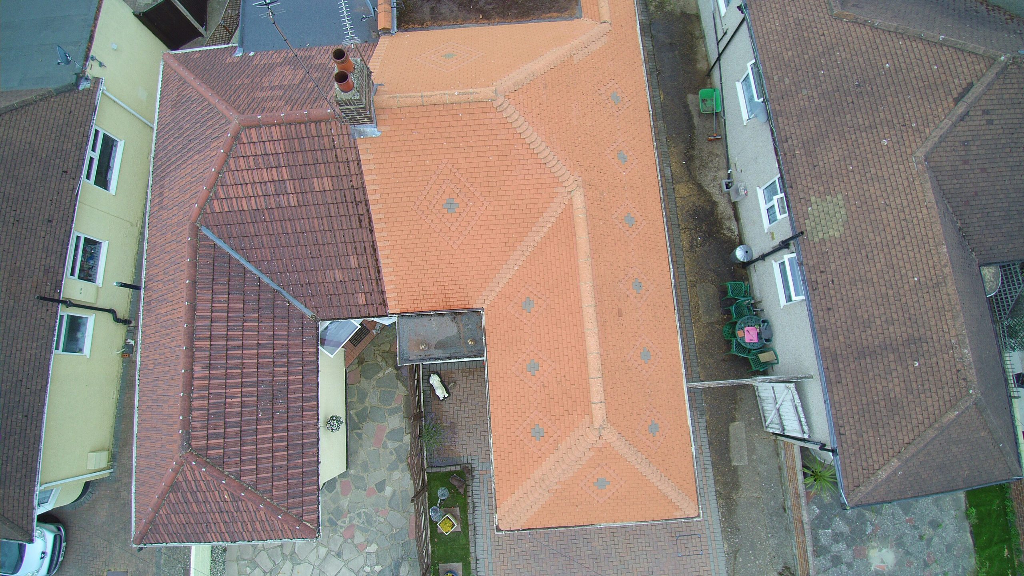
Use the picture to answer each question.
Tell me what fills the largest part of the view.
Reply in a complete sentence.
The bulk of the photo consists of buildings.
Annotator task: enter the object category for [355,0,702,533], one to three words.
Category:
house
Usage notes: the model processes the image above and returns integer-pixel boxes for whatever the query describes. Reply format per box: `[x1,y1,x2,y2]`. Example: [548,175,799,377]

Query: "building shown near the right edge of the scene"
[696,0,1024,510]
